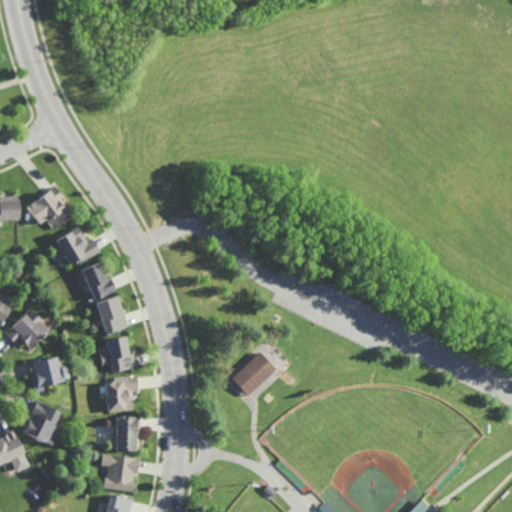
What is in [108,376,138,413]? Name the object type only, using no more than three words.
house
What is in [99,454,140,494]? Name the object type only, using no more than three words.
house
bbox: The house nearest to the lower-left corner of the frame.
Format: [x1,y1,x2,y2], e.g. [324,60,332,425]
[0,428,33,474]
